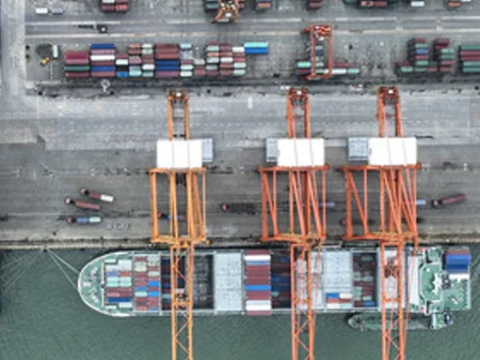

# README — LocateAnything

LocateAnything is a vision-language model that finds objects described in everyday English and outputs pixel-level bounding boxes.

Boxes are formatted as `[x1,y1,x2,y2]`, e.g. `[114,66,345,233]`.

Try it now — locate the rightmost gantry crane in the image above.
[336,83,419,360]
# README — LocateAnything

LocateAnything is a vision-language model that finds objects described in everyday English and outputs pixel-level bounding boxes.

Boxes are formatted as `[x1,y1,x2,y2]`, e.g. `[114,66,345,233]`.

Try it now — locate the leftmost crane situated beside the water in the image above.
[146,87,208,360]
